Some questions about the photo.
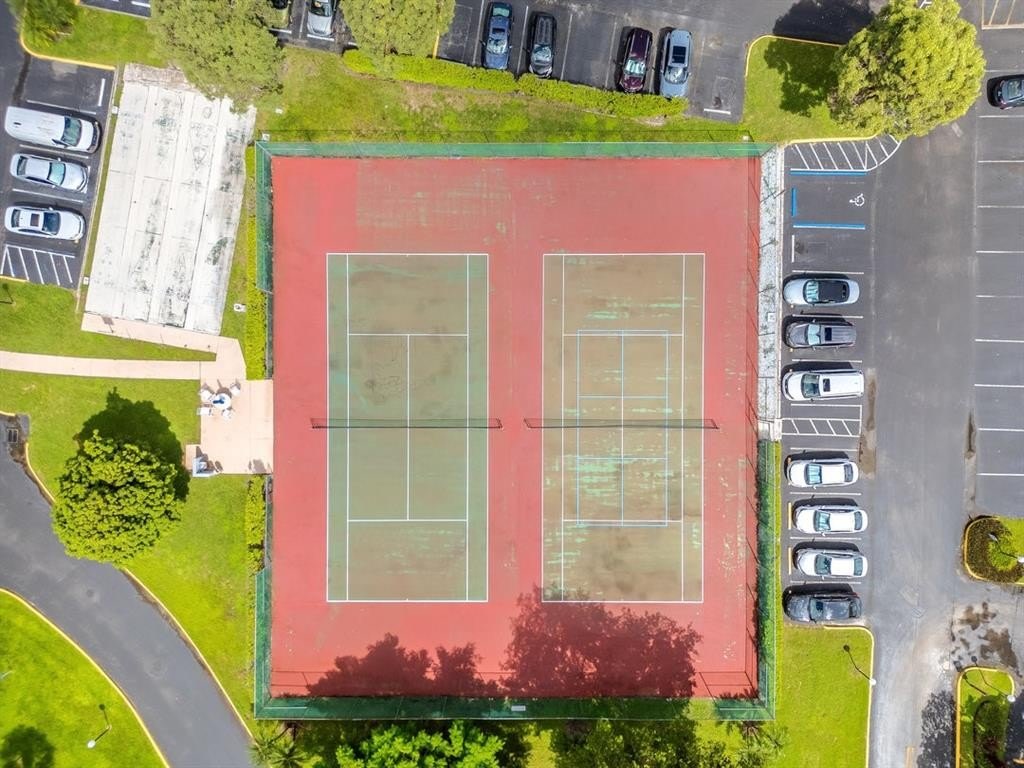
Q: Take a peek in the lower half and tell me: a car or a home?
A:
car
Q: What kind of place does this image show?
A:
sports ground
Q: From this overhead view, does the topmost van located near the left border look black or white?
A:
white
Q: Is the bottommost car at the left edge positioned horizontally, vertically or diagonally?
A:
horizontally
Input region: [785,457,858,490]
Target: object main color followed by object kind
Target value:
white car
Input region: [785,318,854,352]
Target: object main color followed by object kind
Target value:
gray car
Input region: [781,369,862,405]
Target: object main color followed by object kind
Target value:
white car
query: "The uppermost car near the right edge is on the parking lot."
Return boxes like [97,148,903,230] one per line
[994,81,1024,113]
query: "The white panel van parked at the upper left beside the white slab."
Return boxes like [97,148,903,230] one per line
[4,104,103,153]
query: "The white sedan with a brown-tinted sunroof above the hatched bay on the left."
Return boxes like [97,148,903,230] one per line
[6,207,86,242]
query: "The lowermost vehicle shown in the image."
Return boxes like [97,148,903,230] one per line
[783,590,860,626]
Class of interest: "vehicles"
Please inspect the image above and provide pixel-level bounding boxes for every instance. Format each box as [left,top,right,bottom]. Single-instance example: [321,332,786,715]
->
[481,1,516,75]
[994,81,1024,113]
[619,27,656,98]
[306,0,342,41]
[658,29,694,102]
[781,369,862,405]
[783,590,860,626]
[4,104,103,153]
[785,318,854,352]
[6,207,86,242]
[11,153,91,193]
[525,13,559,82]
[794,506,867,539]
[782,274,859,309]
[795,548,868,583]
[785,457,858,490]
